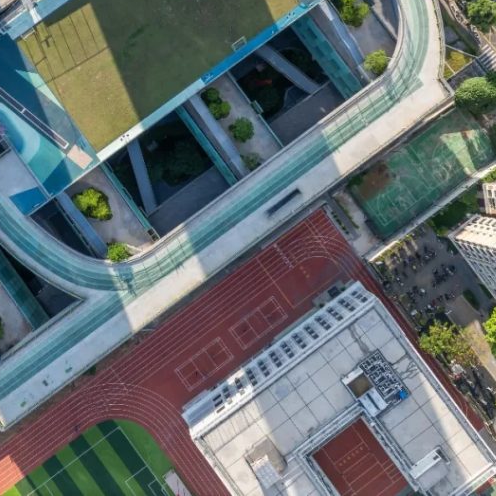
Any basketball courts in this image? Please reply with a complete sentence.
Yes, you can see a basketball court in this photo.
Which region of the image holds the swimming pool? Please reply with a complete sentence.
The swimming pool is in the top left part of the image.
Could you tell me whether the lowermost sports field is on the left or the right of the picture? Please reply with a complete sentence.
The lowermost sports field is on the left side of the image.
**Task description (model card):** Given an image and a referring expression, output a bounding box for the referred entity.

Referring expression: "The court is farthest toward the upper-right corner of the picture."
[348,108,492,238]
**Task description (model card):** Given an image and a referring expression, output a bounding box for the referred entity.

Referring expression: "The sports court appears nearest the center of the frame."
[229,297,288,349]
